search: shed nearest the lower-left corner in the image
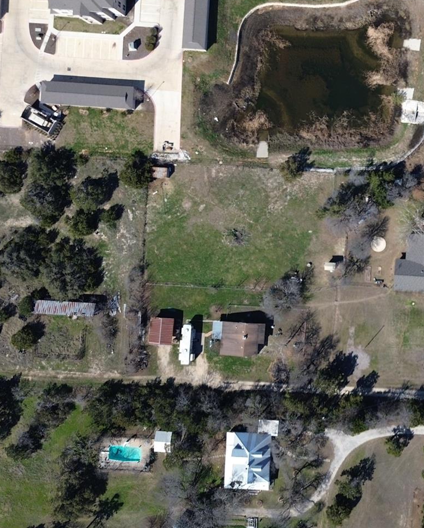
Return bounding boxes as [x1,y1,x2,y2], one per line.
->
[154,430,174,452]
